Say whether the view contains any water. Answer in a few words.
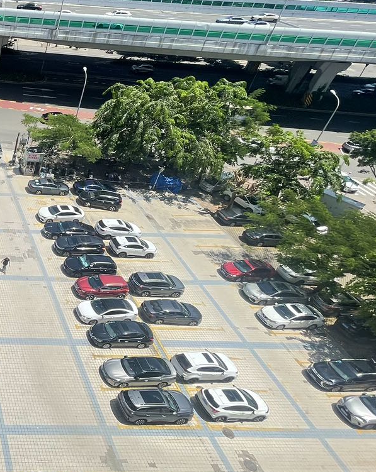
No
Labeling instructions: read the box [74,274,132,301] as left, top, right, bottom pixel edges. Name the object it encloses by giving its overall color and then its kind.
red car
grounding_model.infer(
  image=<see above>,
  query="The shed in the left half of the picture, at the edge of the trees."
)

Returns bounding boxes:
[20,147,44,175]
